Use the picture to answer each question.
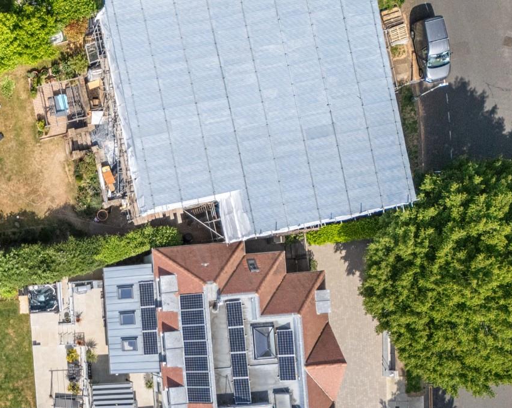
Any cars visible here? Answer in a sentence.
Yes, I can see a car in this picture.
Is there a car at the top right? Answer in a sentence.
Yes, a car can be seen at the top right.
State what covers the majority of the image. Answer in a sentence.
For the most part, this view shows buildings.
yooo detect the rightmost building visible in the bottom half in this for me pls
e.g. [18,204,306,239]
[140,242,348,408]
